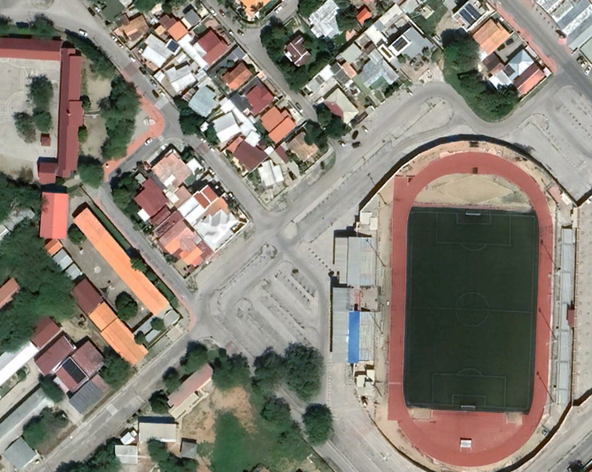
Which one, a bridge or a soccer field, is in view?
soccer field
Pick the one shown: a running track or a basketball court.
running track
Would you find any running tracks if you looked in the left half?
No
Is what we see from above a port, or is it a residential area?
residential area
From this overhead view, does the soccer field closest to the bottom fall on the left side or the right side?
right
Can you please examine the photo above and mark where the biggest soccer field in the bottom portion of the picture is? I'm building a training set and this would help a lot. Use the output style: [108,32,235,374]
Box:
[403,208,539,413]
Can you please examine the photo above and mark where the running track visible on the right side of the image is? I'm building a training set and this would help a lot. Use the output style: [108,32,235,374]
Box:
[388,151,552,467]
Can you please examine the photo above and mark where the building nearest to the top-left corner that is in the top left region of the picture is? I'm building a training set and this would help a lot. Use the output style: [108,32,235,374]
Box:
[0,37,63,61]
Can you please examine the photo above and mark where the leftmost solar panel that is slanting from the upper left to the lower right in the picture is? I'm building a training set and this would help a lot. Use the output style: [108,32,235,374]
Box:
[61,360,86,386]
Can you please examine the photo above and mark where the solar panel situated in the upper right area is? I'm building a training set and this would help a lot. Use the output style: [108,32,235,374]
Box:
[459,2,480,24]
